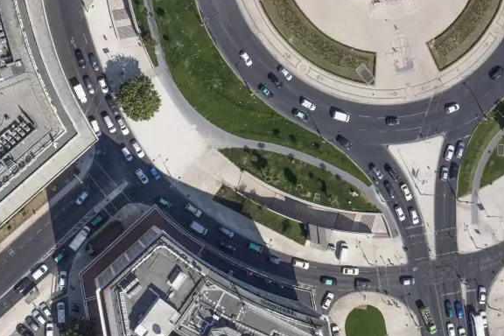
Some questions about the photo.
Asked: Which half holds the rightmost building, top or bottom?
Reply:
bottom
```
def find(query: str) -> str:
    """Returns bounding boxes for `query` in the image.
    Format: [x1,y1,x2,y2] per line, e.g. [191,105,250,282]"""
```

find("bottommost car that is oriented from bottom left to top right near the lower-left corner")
[16,279,31,294]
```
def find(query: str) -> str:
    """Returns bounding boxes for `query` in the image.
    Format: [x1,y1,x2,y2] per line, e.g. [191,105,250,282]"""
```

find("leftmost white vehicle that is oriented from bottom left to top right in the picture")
[32,264,47,279]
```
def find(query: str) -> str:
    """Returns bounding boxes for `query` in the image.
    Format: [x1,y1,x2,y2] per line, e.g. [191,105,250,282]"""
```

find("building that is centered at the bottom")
[79,205,330,336]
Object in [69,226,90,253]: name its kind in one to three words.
truck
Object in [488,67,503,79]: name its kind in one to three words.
vehicle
